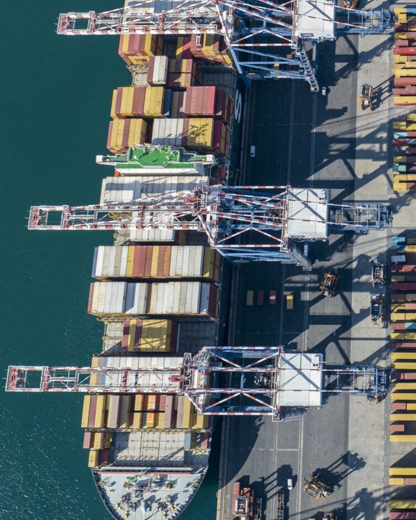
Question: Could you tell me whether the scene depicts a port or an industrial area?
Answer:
port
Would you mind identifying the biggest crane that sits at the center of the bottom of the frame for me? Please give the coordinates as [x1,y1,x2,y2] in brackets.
[3,341,385,422]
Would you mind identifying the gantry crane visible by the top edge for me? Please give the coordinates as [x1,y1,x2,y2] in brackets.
[54,0,391,95]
